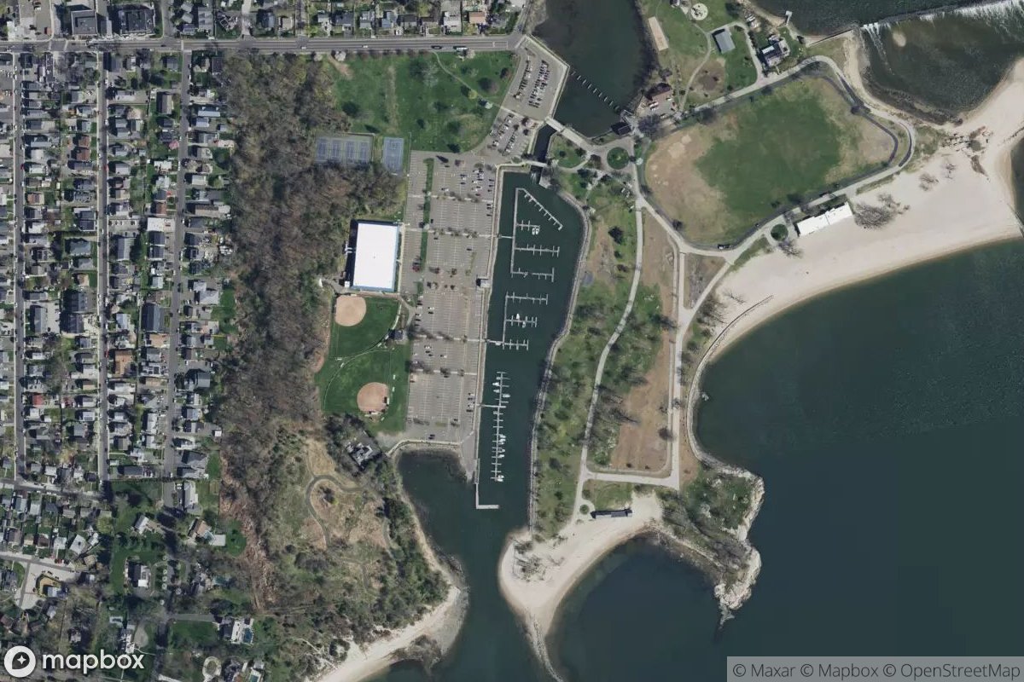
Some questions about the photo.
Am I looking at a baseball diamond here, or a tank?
baseball diamond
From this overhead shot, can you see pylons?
No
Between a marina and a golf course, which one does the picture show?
marina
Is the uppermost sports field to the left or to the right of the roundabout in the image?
to the right of it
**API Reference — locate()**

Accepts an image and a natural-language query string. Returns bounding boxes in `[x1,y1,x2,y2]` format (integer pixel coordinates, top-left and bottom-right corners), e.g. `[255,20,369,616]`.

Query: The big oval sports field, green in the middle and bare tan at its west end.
[645,77,893,241]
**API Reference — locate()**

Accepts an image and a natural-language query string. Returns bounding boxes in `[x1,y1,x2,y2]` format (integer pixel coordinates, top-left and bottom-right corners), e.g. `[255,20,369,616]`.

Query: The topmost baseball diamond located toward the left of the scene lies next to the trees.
[328,294,401,358]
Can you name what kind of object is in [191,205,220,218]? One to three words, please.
house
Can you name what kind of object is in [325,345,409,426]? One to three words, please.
baseball field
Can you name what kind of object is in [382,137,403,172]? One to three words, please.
basketball court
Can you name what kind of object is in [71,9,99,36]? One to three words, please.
building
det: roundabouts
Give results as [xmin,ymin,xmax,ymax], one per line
[582,133,642,201]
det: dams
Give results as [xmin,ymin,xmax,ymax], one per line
[856,0,1016,28]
